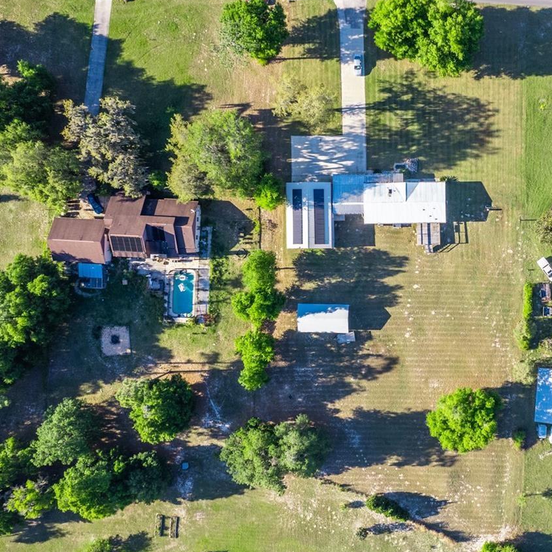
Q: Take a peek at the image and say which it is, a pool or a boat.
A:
pool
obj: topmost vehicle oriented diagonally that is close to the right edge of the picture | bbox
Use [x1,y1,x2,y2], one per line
[536,256,552,282]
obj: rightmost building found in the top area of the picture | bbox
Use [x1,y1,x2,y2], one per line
[332,173,446,223]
